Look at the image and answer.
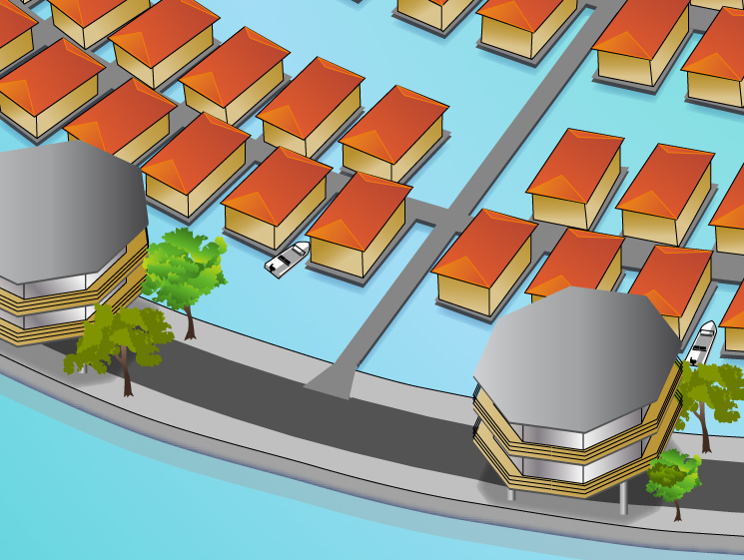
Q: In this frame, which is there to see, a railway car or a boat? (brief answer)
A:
boat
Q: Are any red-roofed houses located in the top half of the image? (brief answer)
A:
Yes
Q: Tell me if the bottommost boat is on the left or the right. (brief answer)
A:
right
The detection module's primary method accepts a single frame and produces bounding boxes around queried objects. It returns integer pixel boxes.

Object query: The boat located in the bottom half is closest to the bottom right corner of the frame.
[685,320,719,371]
